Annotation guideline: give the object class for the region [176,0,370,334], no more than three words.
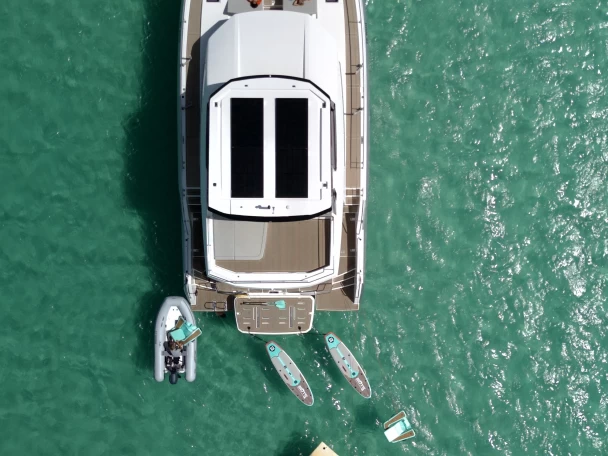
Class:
boat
